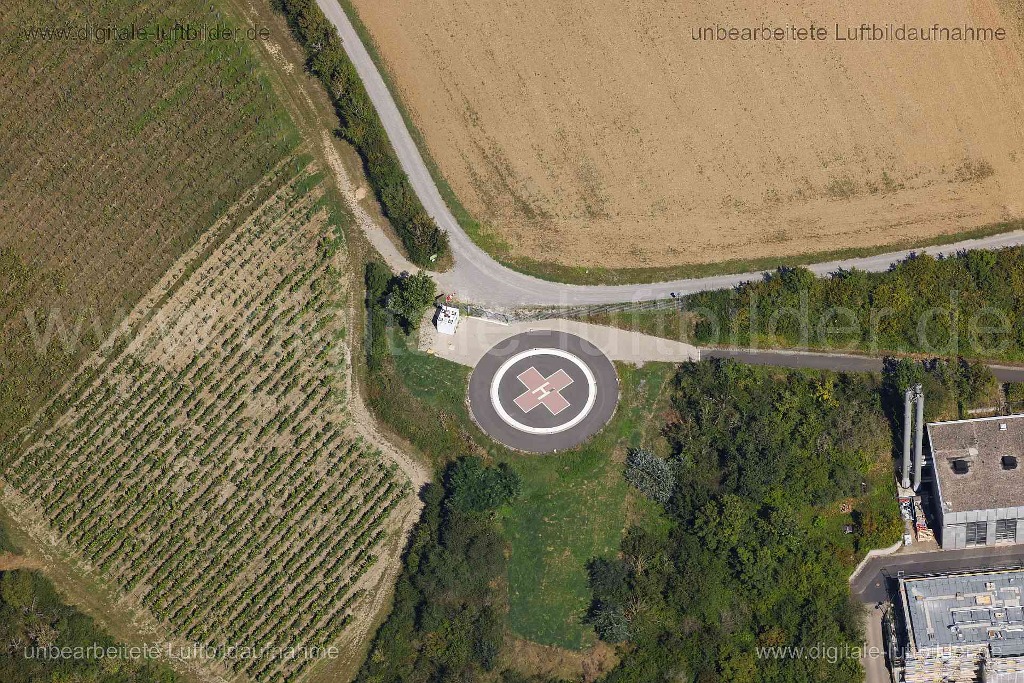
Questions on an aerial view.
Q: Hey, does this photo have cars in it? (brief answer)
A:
No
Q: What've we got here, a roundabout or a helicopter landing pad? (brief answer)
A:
helicopter landing pad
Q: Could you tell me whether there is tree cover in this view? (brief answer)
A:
Yes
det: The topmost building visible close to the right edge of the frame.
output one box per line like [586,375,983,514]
[928,413,1024,551]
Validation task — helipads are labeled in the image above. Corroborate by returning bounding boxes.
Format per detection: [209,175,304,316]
[469,329,619,453]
